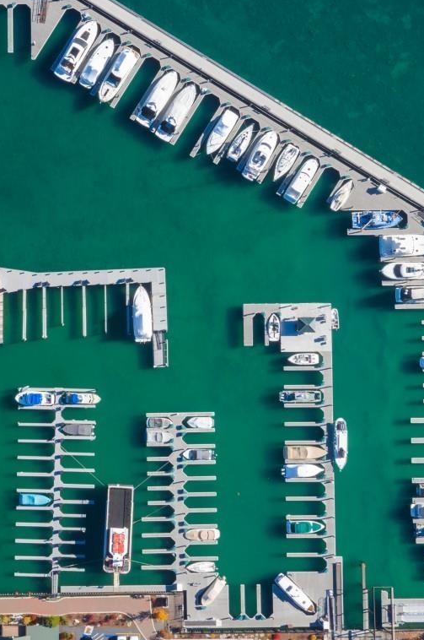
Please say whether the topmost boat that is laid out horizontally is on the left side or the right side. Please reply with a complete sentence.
The topmost boat that is laid out horizontally sits on the right side.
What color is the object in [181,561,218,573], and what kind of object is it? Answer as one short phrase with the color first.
white boat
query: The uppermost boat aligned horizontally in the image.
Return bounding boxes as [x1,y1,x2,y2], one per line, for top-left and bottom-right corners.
[350,209,403,229]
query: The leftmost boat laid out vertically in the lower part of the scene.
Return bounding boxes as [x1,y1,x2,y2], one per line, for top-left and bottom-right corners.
[104,485,134,575]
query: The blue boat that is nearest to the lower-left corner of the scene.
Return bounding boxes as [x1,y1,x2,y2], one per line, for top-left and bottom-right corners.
[19,491,52,506]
